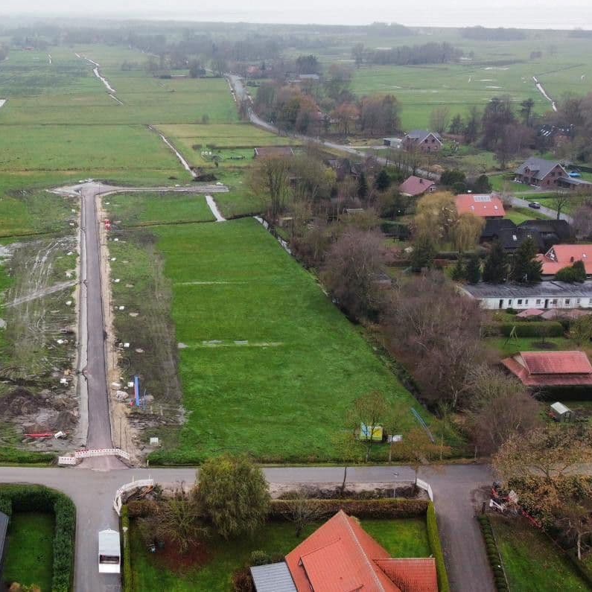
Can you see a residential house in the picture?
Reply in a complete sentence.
Yes, the image includes a residential house.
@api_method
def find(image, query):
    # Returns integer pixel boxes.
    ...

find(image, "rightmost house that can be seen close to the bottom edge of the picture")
[274,507,450,592]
